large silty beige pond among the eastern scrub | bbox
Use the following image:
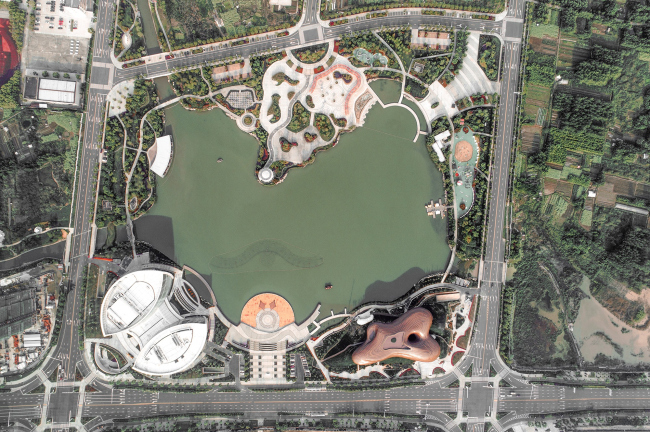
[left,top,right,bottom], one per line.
[574,276,650,362]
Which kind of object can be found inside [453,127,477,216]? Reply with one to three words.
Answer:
playground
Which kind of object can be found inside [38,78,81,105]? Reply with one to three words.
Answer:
building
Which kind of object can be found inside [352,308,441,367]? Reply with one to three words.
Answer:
building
